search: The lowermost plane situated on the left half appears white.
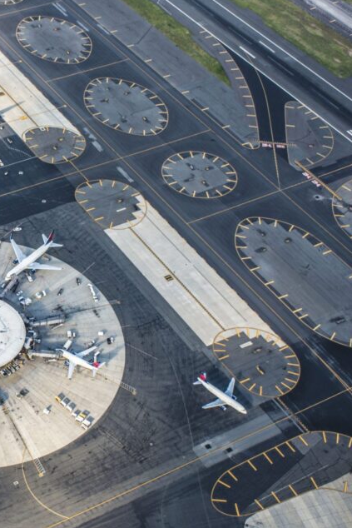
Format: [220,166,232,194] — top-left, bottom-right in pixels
[60,347,105,380]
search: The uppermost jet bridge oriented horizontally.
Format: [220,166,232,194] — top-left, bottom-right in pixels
[25,313,67,328]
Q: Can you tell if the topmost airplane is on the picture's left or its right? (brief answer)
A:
left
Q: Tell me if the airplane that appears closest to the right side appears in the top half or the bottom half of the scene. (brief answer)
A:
bottom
